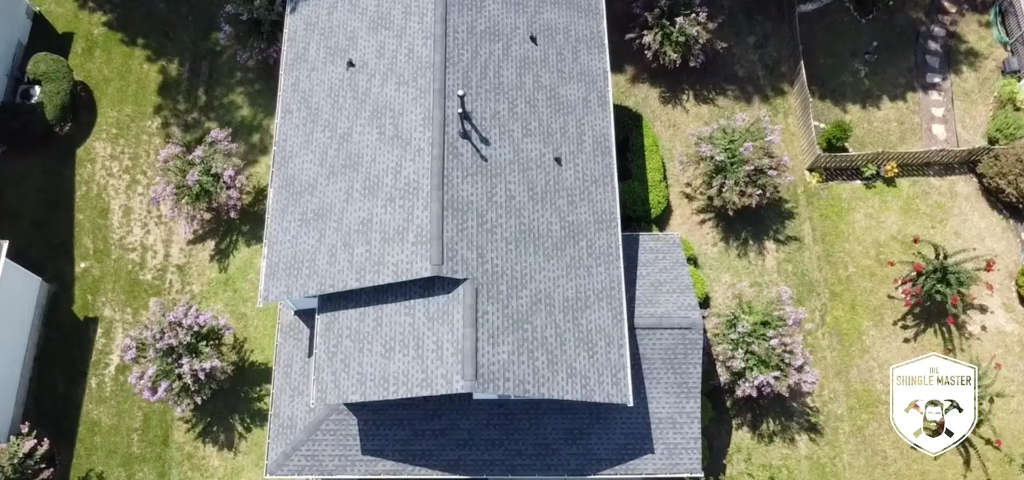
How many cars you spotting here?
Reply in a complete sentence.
No cars are visible.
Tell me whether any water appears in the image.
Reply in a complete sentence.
No, there is no water in the image.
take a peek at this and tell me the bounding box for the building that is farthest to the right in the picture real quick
[255,0,704,480]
